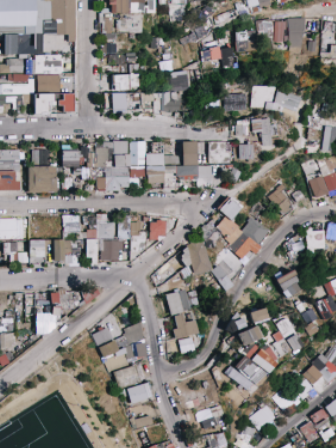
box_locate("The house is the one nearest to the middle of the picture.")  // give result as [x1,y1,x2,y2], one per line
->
[150,214,167,240]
